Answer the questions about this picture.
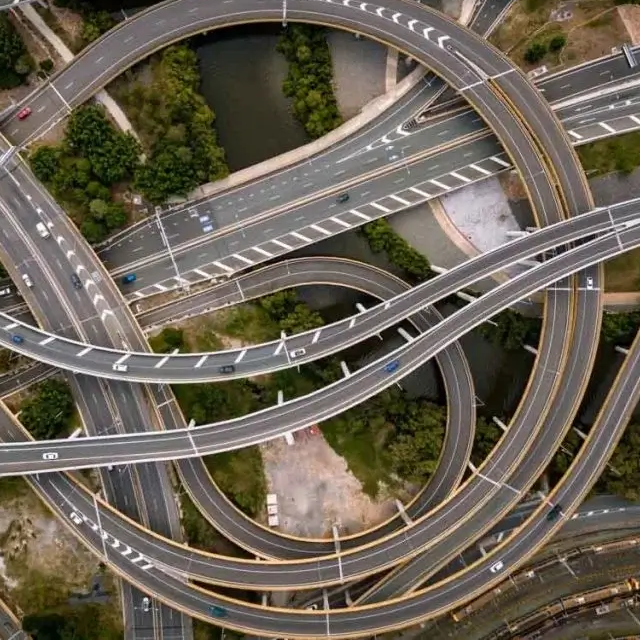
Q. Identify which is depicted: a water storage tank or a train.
train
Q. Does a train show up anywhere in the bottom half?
Yes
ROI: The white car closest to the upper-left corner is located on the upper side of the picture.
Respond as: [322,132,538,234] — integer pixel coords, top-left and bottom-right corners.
[35,223,47,237]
